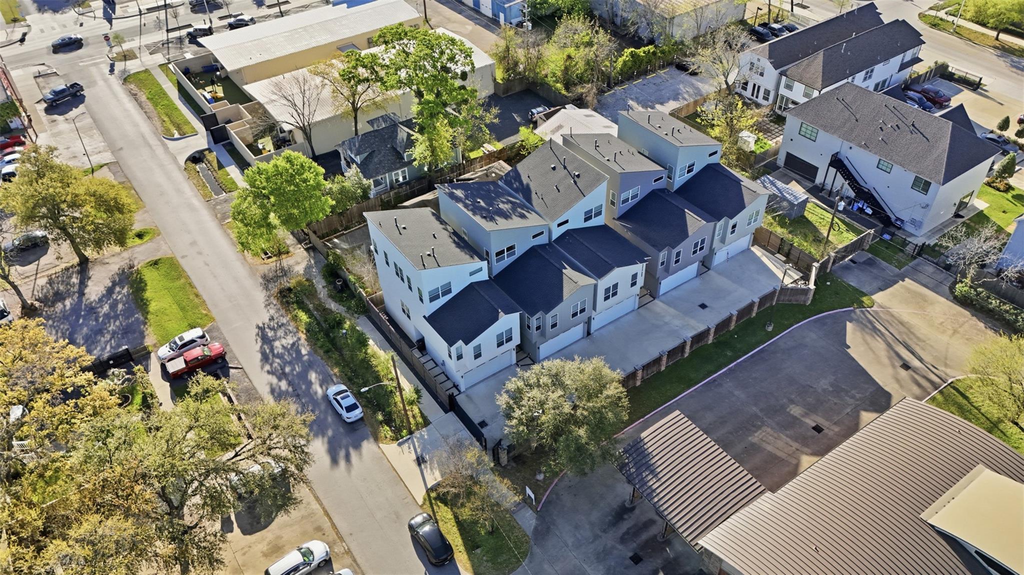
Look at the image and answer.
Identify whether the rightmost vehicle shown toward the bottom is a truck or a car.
car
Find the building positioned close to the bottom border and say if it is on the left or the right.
right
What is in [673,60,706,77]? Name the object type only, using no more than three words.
car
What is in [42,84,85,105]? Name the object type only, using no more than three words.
truck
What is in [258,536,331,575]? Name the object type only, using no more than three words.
car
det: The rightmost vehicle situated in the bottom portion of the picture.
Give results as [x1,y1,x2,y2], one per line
[406,507,458,569]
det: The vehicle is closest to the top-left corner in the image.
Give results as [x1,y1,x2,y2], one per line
[52,34,82,48]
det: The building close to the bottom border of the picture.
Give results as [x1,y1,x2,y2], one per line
[697,396,1024,575]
